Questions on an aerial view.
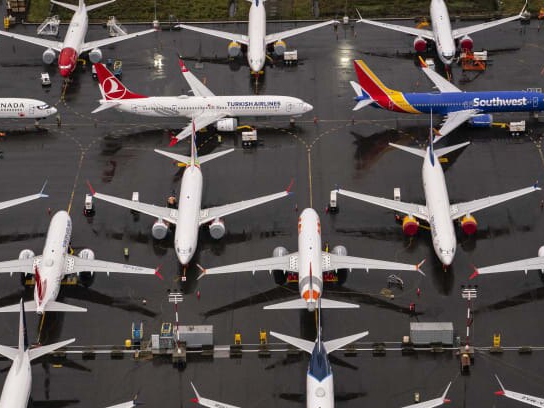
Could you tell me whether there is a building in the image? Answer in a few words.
No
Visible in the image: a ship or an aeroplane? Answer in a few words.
aeroplane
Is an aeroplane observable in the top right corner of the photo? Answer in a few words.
Yes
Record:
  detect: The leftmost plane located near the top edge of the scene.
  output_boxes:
[0,0,163,82]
